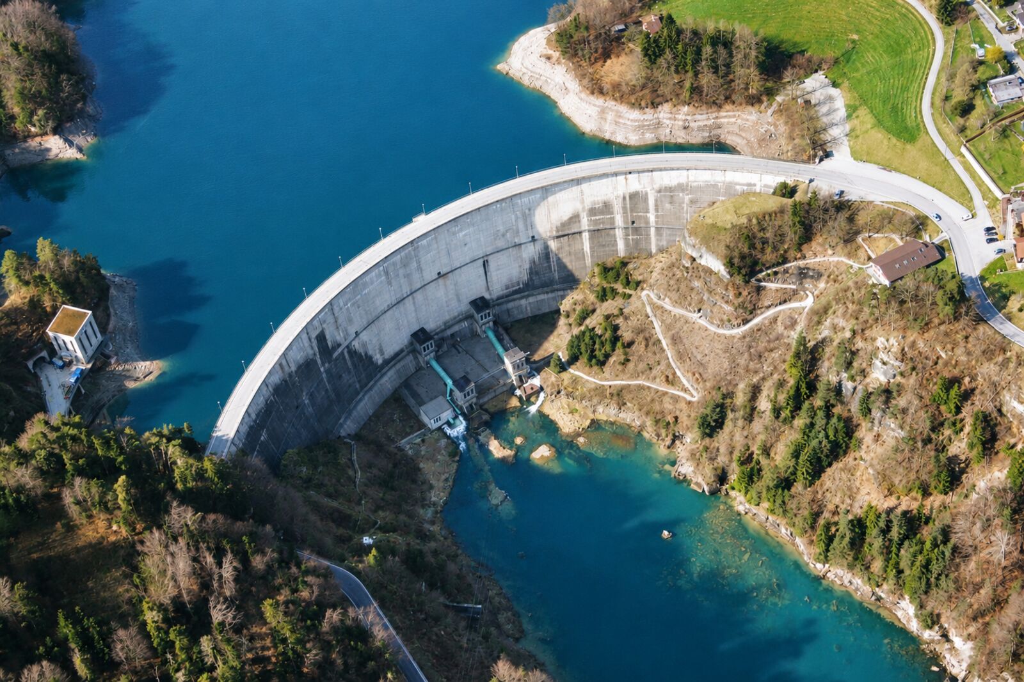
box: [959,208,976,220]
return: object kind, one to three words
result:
vehicle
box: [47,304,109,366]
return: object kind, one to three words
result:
building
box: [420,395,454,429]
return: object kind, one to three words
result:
house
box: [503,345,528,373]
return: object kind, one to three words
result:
house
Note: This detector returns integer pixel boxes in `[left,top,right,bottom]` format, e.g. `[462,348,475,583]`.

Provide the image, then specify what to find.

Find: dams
[203,150,821,477]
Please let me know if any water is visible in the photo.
Yes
